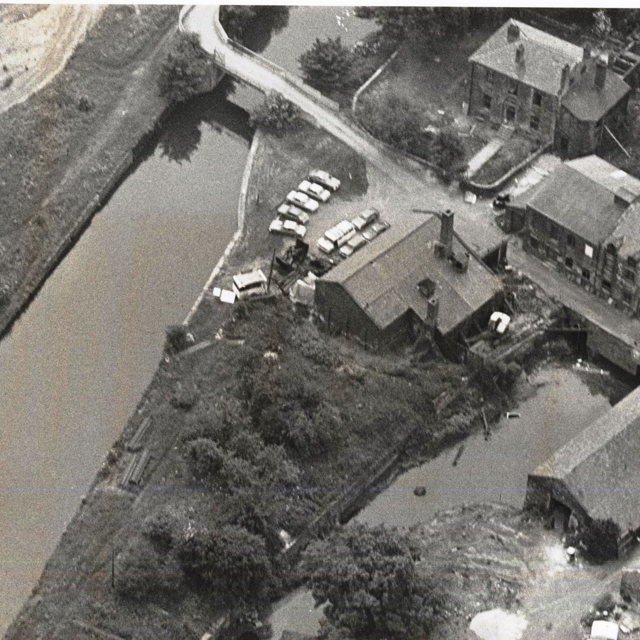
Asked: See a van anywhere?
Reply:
Yes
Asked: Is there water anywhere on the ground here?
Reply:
Yes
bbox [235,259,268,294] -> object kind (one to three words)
van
